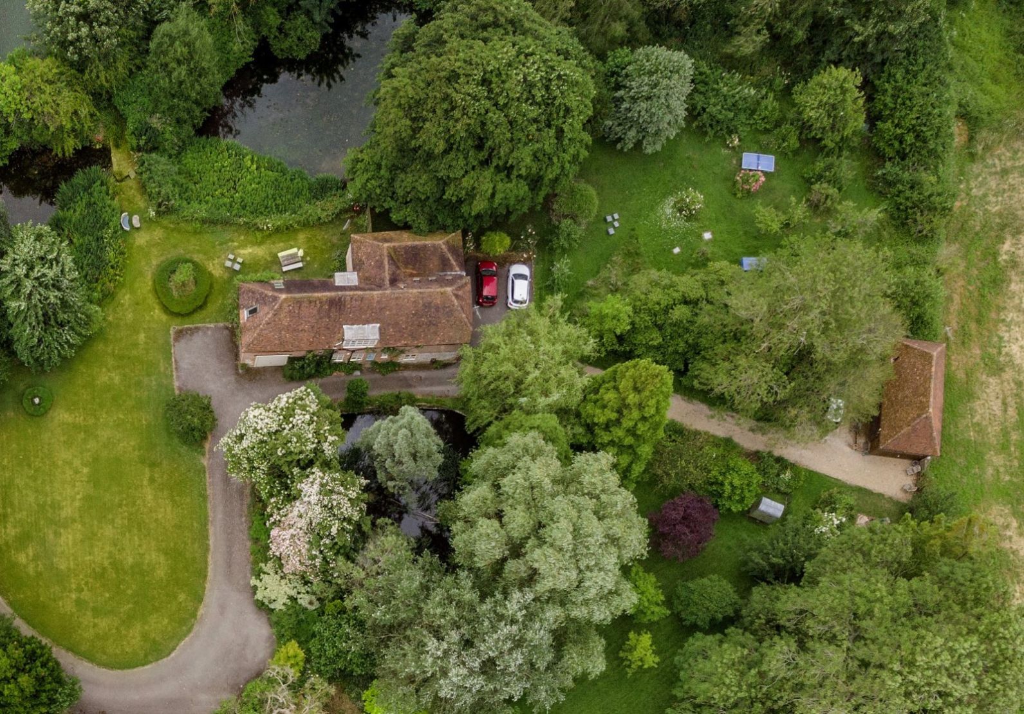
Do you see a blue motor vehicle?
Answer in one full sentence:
No, no blue motor vehicle can be seen from above.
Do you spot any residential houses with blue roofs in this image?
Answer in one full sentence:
No, no residential house with a blue roof is visible in the scene.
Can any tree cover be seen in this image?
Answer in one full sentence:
Yes, there is tree cover in the image.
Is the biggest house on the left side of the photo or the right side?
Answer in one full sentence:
The biggest house sits on the left side.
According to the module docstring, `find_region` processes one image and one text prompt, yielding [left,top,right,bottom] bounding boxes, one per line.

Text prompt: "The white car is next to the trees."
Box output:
[507,264,534,313]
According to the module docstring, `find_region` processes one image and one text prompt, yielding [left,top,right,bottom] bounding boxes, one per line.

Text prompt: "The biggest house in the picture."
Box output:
[239,229,473,368]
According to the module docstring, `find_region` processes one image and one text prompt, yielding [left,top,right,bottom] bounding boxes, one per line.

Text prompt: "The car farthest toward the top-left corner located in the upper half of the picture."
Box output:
[477,261,502,308]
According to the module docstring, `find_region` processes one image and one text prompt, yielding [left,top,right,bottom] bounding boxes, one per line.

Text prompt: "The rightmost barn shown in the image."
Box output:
[868,337,946,460]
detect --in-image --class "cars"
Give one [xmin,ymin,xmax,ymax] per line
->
[477,261,502,308]
[507,264,534,313]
